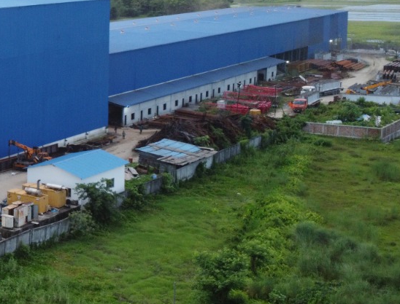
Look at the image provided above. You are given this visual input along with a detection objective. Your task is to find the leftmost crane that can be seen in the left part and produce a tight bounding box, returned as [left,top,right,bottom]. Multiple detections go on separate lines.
[9,140,52,166]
